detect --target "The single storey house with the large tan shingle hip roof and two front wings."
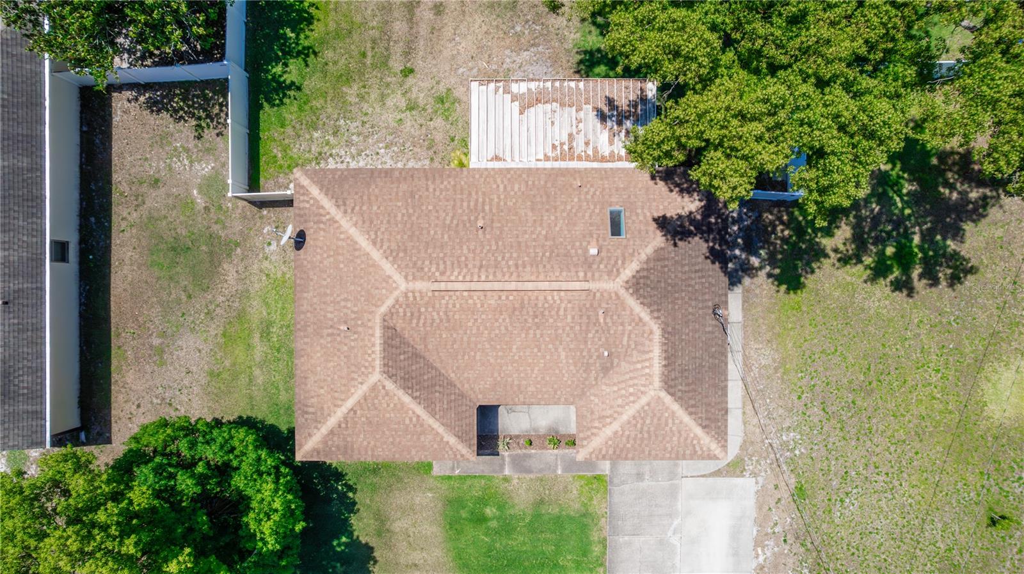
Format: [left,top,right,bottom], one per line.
[293,168,728,461]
